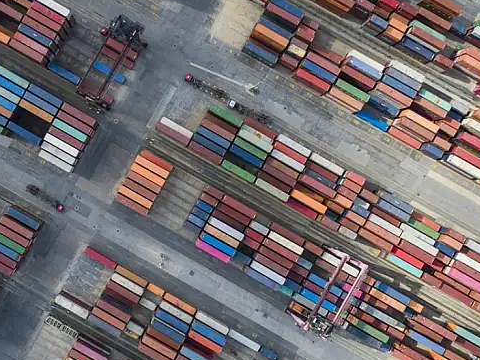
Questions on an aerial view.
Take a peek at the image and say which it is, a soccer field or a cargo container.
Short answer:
cargo container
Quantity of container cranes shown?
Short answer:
2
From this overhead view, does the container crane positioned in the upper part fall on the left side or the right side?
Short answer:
left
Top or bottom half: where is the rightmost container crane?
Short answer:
bottom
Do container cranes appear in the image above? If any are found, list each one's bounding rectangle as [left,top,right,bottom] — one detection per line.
[75,17,149,113]
[283,239,372,340]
